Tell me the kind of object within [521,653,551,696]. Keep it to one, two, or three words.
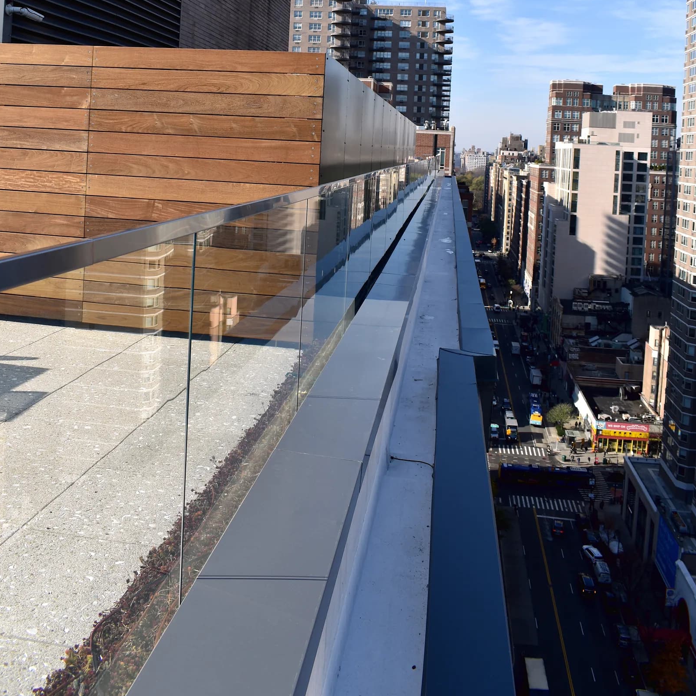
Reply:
truck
